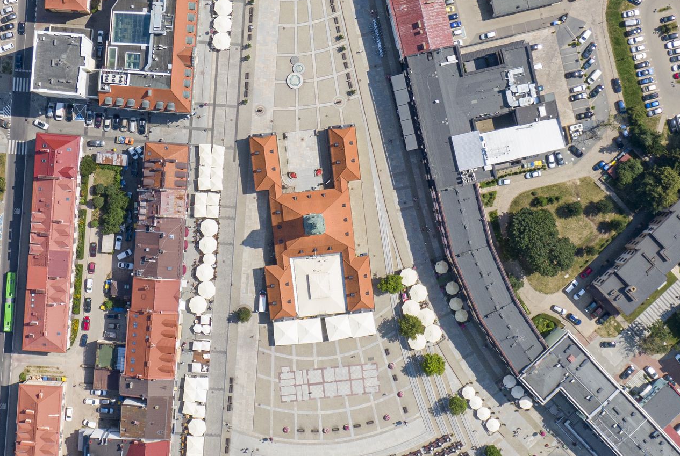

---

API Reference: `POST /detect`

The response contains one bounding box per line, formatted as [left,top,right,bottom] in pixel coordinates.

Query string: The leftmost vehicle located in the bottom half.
[3,272,17,332]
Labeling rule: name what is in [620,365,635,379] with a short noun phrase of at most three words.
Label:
car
